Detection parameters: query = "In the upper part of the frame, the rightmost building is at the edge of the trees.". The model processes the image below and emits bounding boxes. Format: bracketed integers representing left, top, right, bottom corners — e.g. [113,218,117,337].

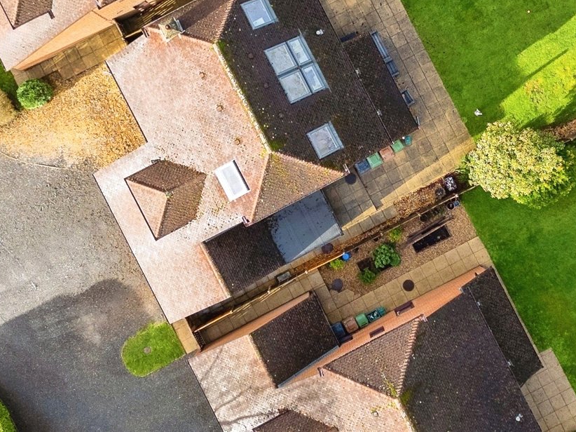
[93,0,419,323]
